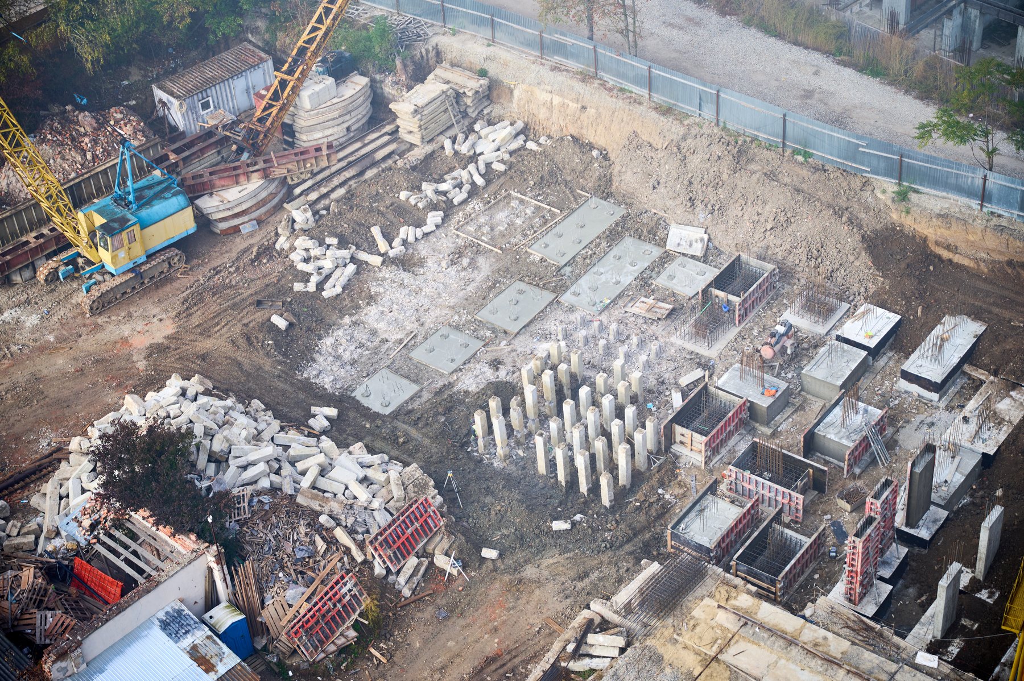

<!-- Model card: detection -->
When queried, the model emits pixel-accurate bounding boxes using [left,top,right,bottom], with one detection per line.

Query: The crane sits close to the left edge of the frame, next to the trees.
[0,32,199,314]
